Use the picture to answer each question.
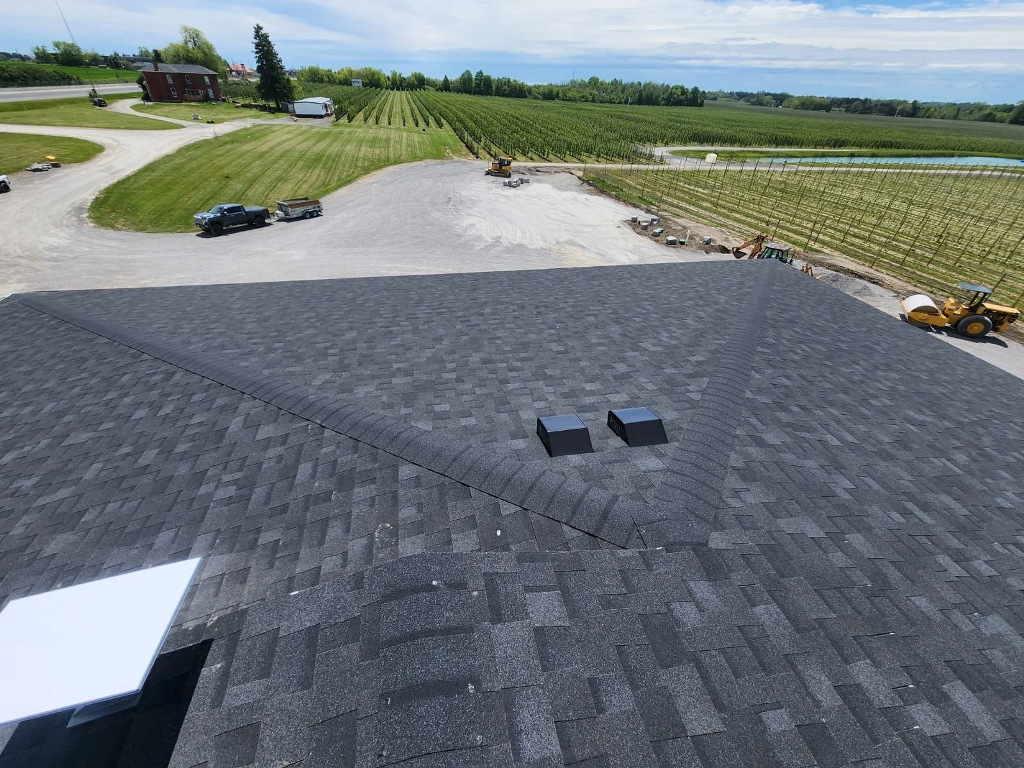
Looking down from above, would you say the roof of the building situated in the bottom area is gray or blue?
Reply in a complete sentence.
The roof of the building situated in the bottom area looks gray in the image.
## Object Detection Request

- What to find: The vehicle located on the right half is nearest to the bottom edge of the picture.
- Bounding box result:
[901,290,1024,338]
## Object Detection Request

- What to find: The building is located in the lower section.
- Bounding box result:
[0,258,1024,768]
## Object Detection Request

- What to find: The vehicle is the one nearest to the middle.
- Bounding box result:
[486,160,512,178]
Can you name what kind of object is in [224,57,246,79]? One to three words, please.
building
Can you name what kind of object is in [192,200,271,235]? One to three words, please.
truck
